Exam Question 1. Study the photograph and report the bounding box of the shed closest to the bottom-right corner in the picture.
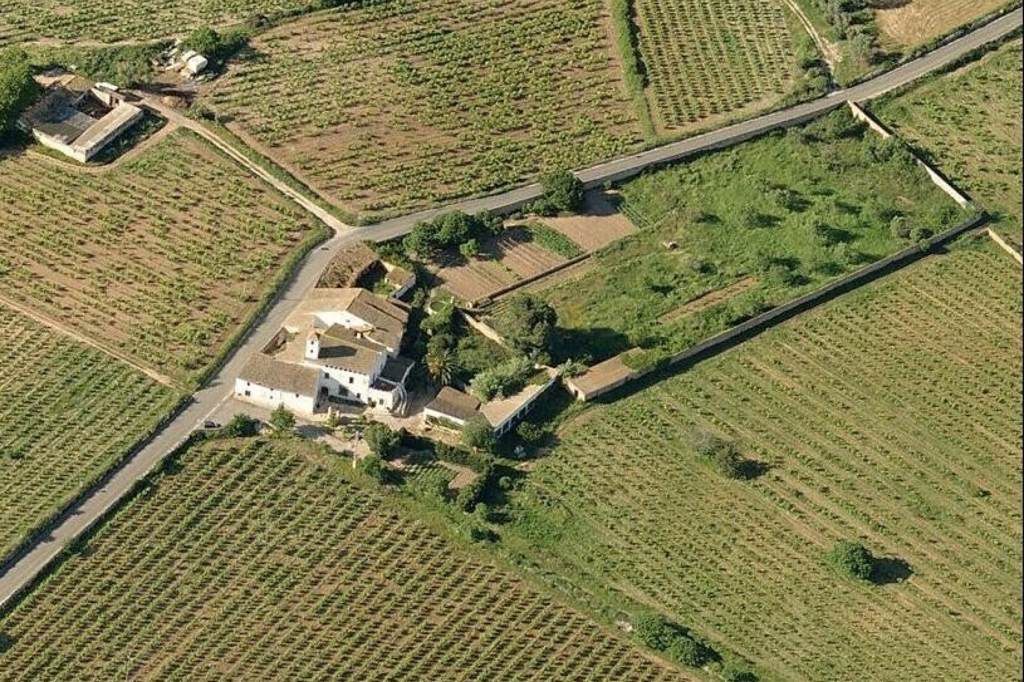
[569,347,647,405]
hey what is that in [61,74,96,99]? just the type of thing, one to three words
shed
